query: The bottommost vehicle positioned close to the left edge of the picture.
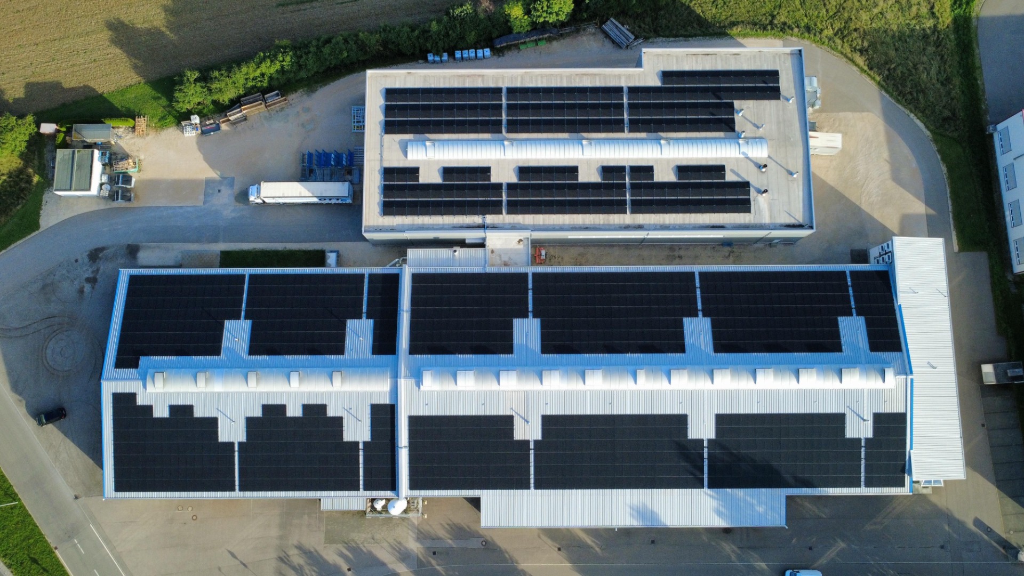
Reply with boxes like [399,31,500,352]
[36,406,69,427]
